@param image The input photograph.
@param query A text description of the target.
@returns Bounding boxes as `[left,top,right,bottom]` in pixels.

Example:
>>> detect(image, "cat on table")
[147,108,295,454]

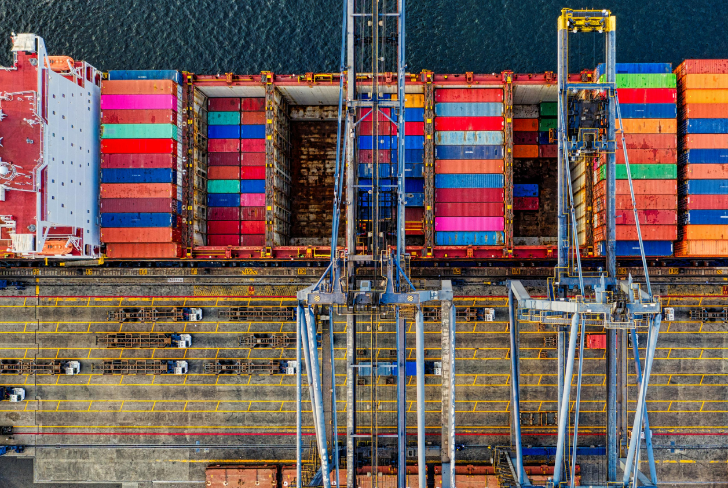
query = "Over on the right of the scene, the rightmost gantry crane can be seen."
[479,1,662,488]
